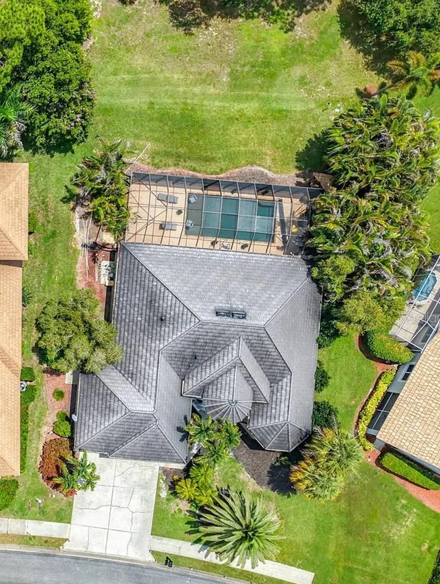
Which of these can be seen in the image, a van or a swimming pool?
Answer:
swimming pool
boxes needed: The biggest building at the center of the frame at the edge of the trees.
[72,241,323,464]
